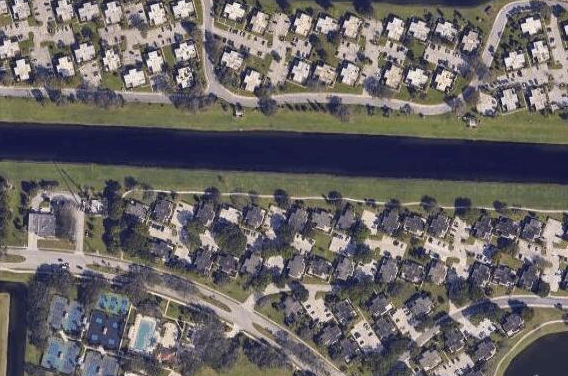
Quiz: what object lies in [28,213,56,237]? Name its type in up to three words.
building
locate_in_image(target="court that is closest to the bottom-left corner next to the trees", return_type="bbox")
[42,337,81,373]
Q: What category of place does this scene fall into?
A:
residential area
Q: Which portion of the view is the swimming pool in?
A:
bottom left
